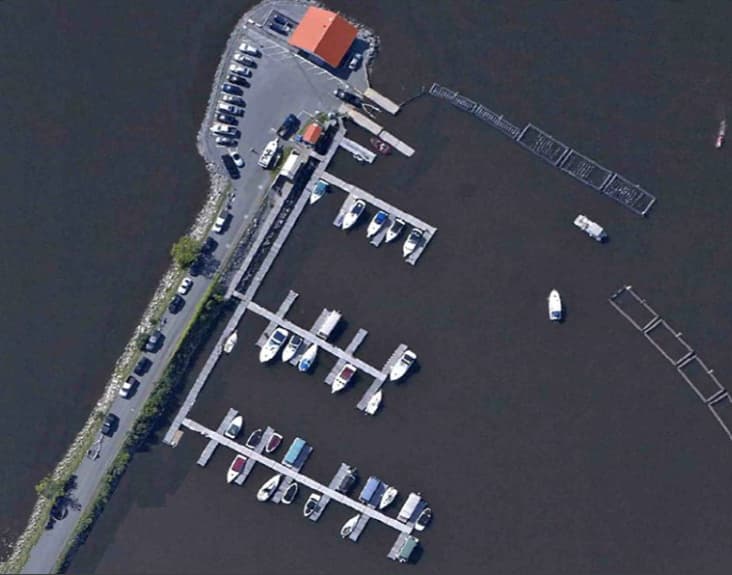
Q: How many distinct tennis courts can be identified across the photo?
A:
zero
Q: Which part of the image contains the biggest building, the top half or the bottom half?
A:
top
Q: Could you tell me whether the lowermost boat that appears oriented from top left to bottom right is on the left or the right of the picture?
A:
right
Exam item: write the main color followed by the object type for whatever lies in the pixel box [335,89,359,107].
black vehicle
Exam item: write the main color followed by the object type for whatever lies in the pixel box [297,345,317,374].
white boat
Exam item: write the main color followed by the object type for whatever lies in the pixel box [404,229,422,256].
white boat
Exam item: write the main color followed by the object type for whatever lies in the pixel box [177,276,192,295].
white car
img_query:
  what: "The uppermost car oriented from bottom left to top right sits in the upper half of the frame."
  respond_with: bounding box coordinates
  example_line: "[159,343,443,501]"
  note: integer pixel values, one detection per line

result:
[347,51,362,70]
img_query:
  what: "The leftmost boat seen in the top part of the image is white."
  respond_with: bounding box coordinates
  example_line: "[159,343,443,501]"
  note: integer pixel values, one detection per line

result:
[258,142,278,169]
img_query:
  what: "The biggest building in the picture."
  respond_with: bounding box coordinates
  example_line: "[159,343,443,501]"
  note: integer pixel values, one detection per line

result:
[290,6,357,68]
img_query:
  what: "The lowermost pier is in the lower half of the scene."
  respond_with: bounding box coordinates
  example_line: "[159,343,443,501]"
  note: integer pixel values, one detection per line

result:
[182,408,427,559]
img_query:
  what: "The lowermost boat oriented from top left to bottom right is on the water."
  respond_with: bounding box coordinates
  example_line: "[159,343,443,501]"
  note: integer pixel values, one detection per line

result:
[575,217,603,240]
